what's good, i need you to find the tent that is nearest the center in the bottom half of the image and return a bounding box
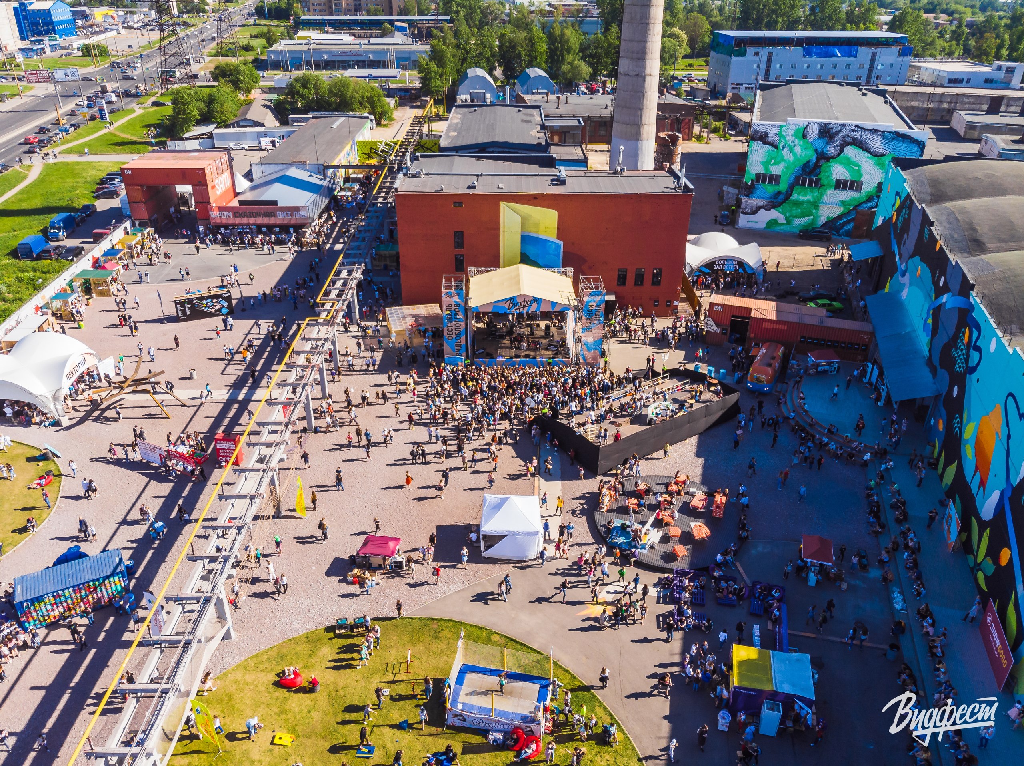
[482,494,542,563]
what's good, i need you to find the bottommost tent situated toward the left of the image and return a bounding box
[358,536,410,585]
